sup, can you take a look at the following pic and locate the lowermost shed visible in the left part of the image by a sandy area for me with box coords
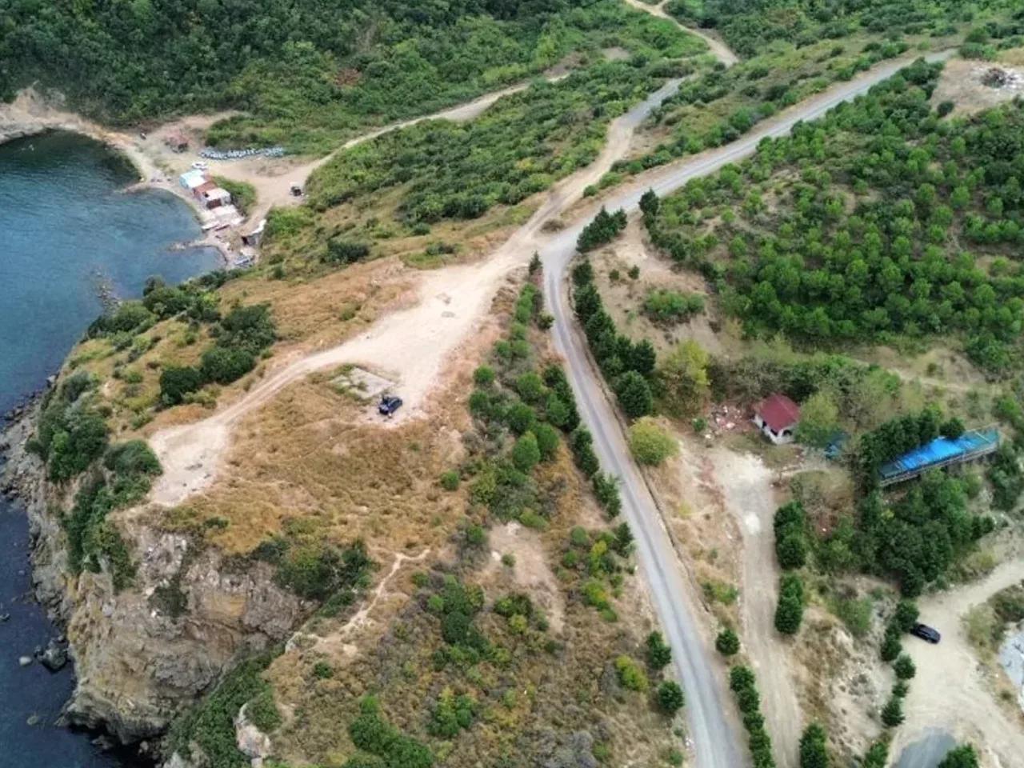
[242,223,264,246]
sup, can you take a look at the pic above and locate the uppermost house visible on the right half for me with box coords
[750,386,804,442]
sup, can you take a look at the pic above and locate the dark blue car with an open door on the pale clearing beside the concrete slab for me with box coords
[376,393,406,417]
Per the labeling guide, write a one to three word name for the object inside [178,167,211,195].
shed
